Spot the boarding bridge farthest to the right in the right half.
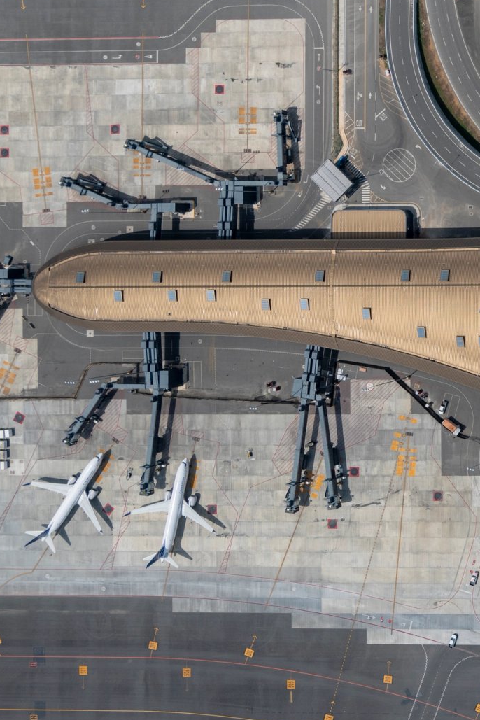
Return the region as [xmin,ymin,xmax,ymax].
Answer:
[285,345,352,519]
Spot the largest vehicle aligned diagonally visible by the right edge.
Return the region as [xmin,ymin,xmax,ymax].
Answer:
[440,416,465,436]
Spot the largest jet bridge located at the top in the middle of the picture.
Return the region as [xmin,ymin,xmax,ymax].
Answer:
[124,109,301,240]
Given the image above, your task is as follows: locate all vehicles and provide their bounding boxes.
[419,392,428,399]
[270,385,280,392]
[448,634,459,648]
[440,399,449,415]
[265,382,273,387]
[424,402,432,409]
[413,388,421,397]
[384,68,390,78]
[343,68,352,74]
[243,450,251,458]
[440,416,465,436]
[469,571,479,585]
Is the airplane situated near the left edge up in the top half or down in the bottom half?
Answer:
bottom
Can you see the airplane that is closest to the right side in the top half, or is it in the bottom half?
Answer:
bottom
